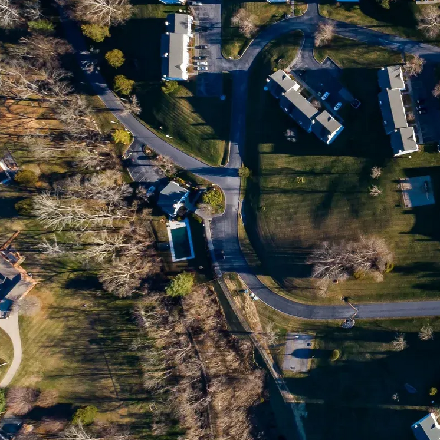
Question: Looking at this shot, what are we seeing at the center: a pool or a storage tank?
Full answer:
What appears at the center is a pool.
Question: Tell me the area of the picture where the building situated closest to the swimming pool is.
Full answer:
The building situated closest to the swimming pool is located in the center region of the scene.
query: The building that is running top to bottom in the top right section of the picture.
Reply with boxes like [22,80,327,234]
[376,64,420,154]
